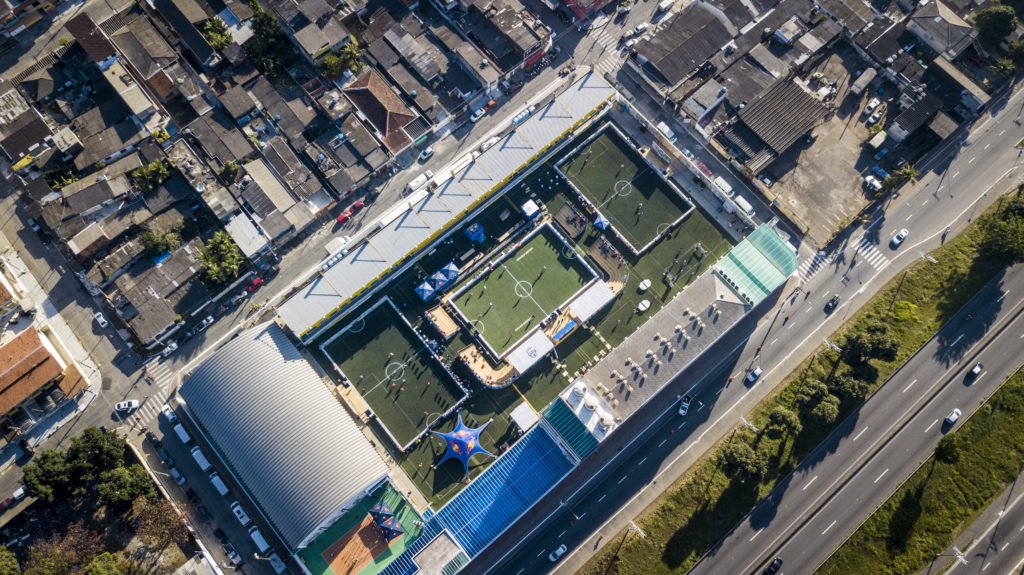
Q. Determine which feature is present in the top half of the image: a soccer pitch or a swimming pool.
soccer pitch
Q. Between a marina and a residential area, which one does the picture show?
residential area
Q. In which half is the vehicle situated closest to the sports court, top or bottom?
bottom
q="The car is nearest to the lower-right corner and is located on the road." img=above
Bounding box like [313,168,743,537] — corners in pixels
[943,405,964,425]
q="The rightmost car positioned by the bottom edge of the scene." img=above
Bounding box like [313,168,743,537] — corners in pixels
[763,555,785,575]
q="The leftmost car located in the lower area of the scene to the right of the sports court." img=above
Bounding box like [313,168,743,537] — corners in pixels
[547,541,569,563]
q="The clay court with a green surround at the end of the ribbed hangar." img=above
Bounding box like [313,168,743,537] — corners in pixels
[292,478,424,575]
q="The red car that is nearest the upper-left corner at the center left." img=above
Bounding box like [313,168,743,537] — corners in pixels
[245,276,266,293]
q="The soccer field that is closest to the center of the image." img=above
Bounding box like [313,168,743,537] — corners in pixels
[448,219,602,360]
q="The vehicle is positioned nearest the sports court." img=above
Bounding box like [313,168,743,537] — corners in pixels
[267,549,291,575]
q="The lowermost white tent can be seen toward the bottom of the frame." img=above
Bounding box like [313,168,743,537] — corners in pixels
[510,401,539,433]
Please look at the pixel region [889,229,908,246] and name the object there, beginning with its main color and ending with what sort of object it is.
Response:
white car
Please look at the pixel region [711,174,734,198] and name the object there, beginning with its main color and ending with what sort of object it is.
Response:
white vehicle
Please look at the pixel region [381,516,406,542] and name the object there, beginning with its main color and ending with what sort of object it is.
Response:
blue gazebo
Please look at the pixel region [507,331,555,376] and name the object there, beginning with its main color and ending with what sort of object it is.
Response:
white tent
